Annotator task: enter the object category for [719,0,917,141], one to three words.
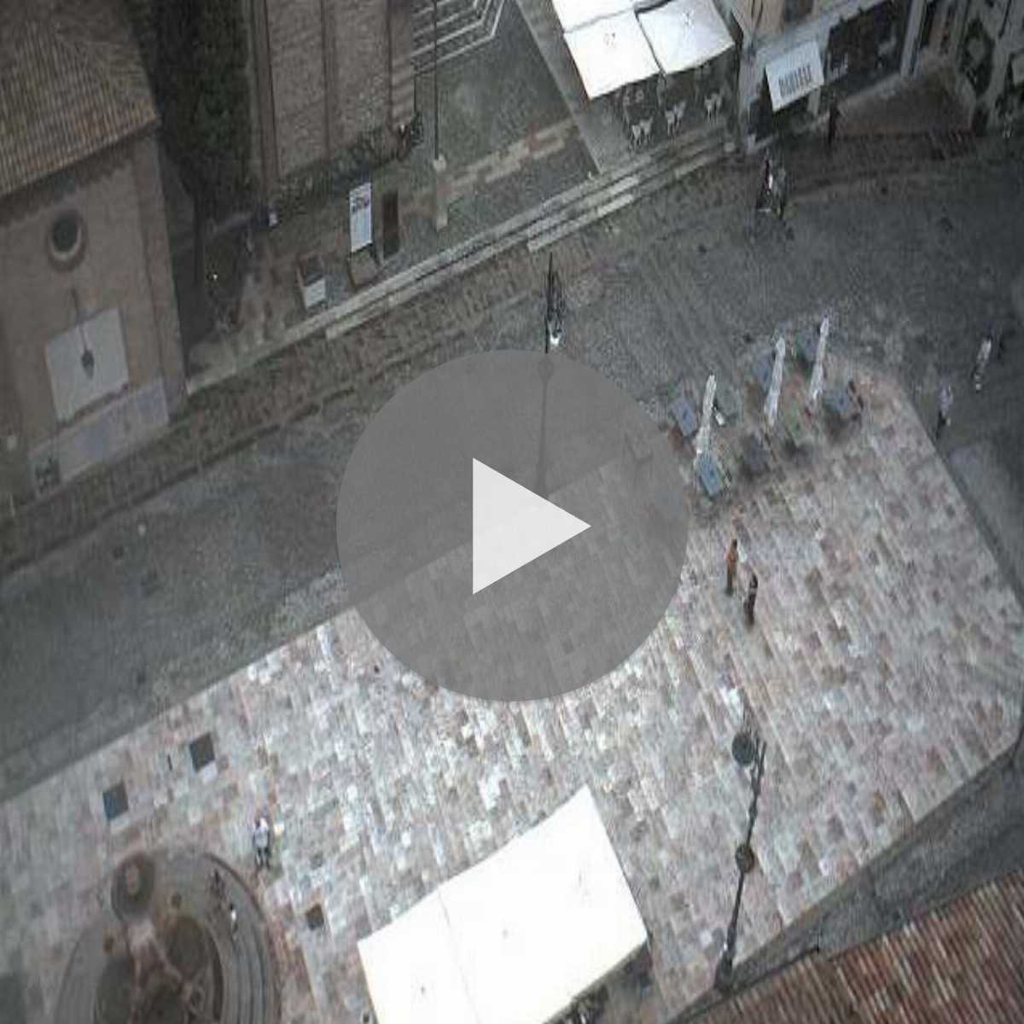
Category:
building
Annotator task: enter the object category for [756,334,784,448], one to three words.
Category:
umbrella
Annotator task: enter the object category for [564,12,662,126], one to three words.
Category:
umbrella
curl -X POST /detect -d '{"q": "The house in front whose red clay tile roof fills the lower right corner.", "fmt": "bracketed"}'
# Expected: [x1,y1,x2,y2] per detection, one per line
[678,869,1024,1024]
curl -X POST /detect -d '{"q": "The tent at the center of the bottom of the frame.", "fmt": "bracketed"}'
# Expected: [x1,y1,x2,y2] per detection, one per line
[358,789,647,1024]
